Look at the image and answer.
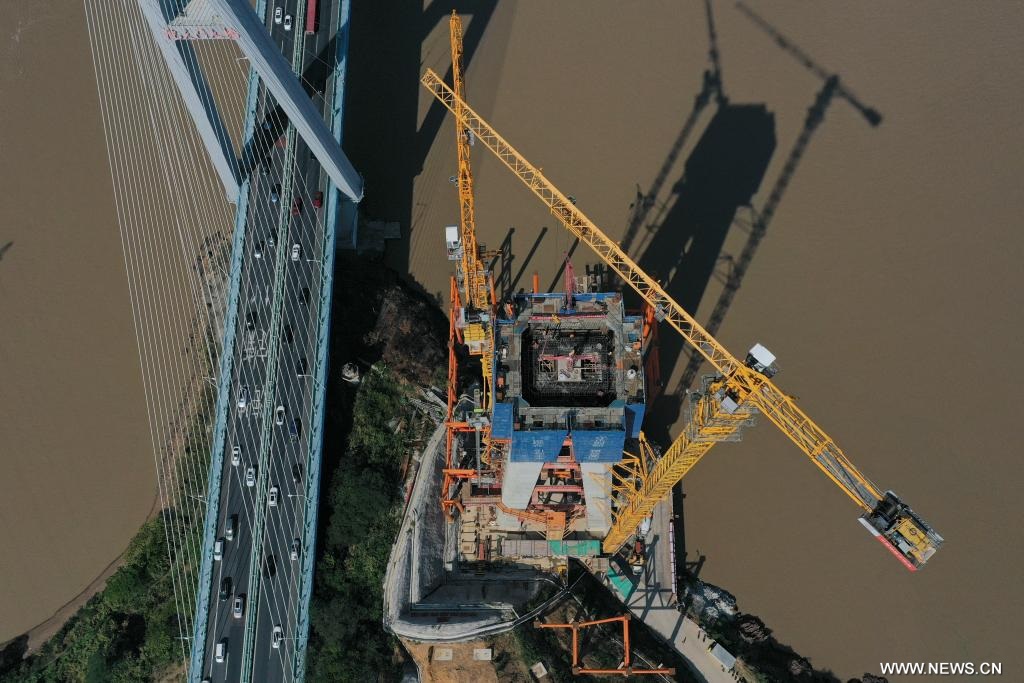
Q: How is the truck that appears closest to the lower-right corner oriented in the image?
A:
diagonally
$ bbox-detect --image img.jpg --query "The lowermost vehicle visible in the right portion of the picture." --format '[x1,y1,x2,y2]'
[703,641,739,673]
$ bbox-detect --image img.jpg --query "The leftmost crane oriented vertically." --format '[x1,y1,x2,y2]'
[445,9,515,491]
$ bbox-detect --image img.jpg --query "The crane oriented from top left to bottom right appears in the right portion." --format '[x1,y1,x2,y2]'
[427,66,949,575]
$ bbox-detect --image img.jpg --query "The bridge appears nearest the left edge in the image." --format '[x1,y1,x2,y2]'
[81,0,413,683]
